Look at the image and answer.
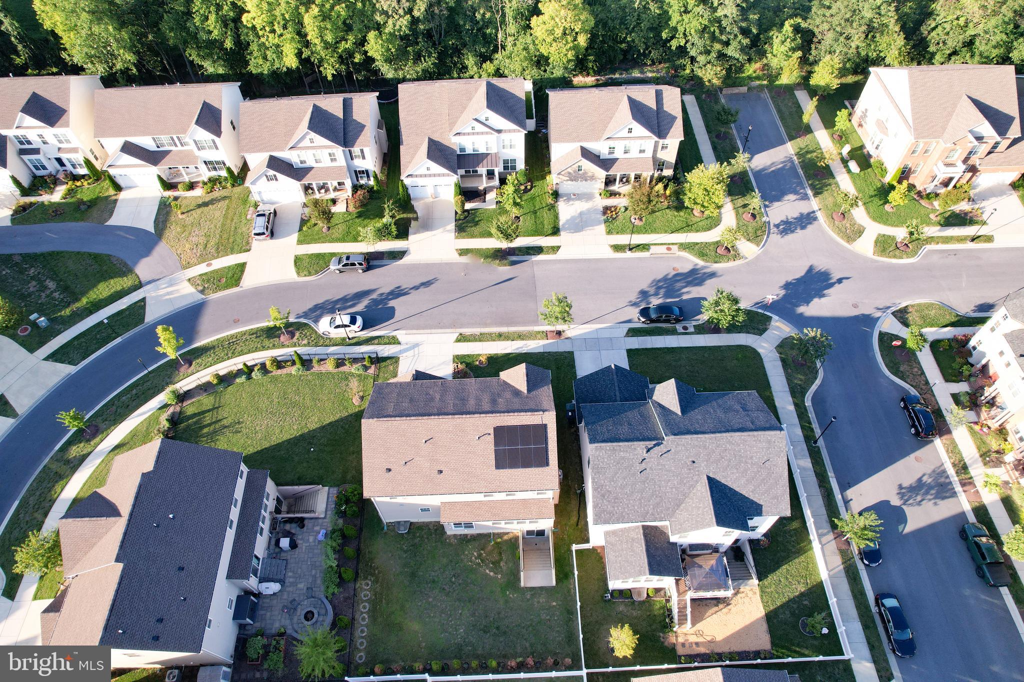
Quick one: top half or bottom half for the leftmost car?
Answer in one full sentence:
The leftmost car sits in the top half of the picture.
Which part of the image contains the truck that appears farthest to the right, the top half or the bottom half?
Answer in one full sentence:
You can find the truck that appears farthest to the right in the bottom half.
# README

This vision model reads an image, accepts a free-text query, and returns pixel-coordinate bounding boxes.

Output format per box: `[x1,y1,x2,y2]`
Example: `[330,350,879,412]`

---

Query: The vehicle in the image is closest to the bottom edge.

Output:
[876,598,918,662]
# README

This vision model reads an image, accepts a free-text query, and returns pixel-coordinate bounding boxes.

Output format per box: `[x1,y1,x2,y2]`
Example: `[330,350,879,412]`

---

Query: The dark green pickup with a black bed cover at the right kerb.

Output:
[962,525,1015,590]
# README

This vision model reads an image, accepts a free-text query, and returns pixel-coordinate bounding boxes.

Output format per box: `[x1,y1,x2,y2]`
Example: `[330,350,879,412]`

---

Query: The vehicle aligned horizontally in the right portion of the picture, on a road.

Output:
[637,304,683,324]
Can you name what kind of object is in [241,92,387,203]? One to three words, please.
house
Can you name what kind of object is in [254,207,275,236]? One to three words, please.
car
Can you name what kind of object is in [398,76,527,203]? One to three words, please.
house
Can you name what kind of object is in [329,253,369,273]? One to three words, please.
car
